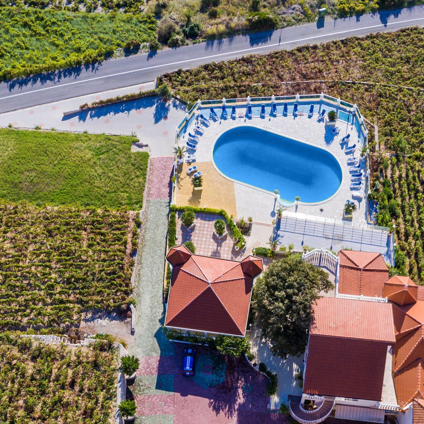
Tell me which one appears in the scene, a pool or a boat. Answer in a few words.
pool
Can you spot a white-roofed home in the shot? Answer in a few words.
No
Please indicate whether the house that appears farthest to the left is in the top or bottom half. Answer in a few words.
bottom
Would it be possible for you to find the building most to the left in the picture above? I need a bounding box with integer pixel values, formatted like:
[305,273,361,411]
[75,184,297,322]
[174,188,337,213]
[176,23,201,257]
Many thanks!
[164,244,263,340]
